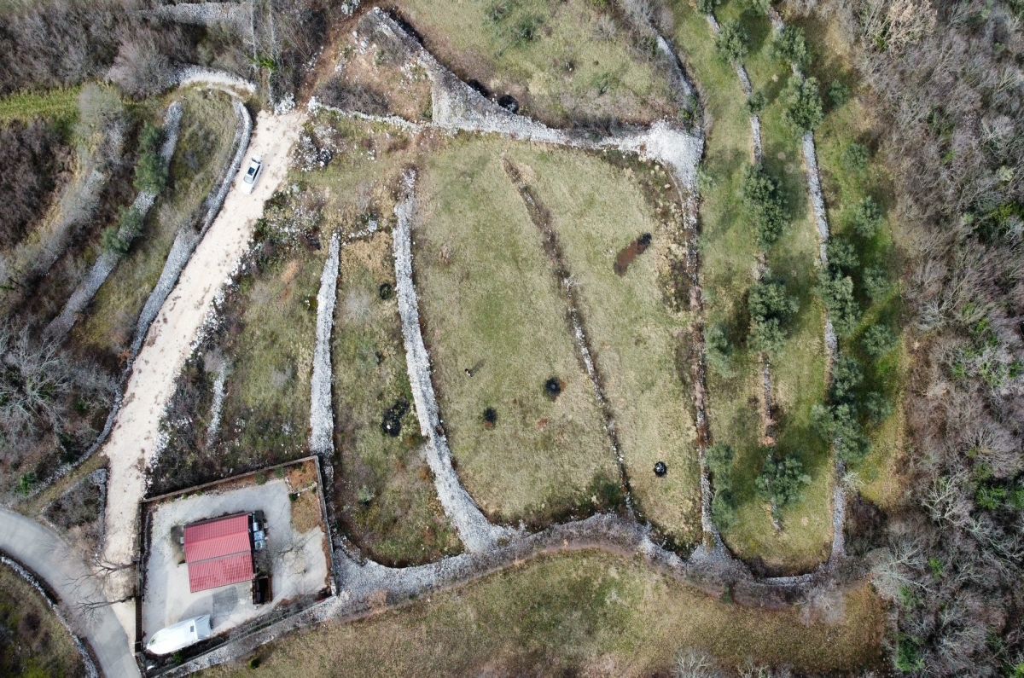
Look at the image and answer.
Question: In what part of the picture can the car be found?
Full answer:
The car sits in the top left section of the image.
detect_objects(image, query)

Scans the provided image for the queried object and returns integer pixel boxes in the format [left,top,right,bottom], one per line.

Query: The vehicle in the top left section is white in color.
[239,155,264,195]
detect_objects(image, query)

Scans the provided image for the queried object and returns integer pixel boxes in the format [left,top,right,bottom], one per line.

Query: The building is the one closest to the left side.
[182,513,259,595]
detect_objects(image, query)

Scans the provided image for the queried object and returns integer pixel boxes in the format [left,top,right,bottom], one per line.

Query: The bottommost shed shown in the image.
[252,572,278,605]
